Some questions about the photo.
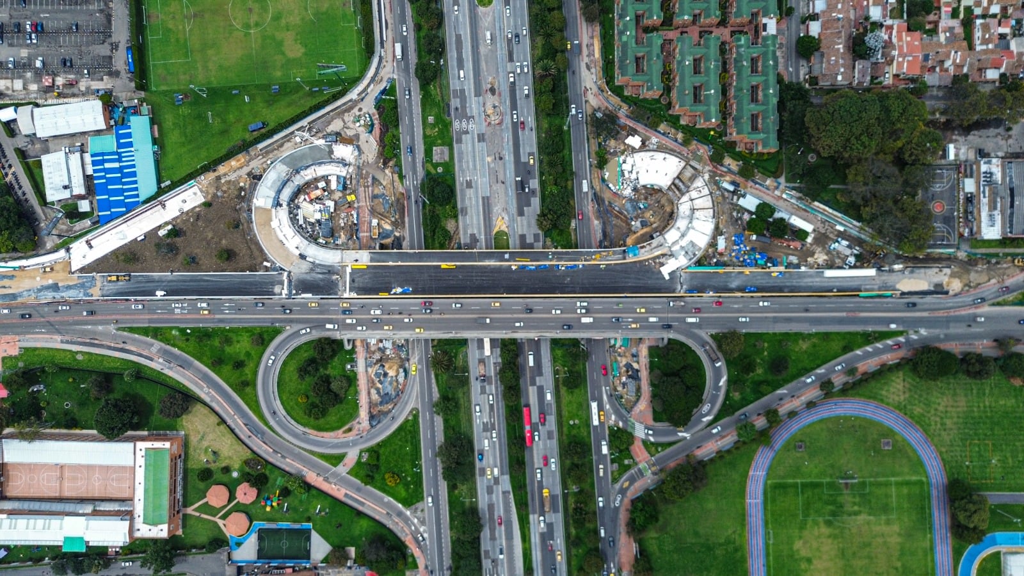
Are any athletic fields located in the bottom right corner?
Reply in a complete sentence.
Yes, an athletic field is visible in the bottom right corner.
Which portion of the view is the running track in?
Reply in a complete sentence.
The running track sits in the bottom right section of the image.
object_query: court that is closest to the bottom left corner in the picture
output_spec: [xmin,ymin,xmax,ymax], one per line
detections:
[0,460,134,499]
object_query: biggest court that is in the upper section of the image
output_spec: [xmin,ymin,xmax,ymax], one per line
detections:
[919,165,959,245]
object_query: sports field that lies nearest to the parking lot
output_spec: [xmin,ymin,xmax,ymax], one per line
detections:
[140,0,366,96]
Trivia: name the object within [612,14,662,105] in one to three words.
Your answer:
building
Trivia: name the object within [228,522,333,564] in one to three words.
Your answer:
sports court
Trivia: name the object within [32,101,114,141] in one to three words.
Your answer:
building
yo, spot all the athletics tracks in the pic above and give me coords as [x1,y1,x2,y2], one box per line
[747,399,953,576]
